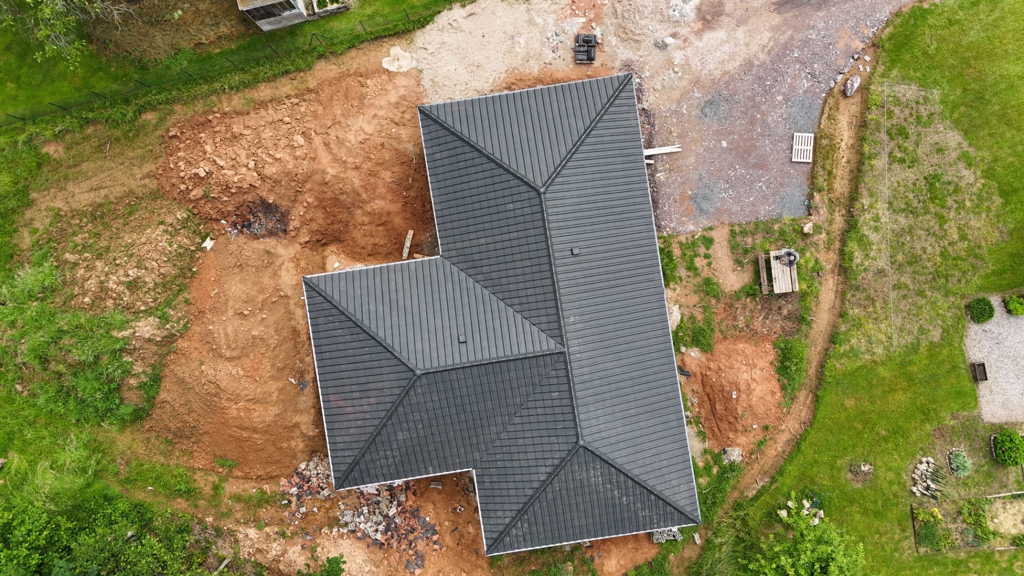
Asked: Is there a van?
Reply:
No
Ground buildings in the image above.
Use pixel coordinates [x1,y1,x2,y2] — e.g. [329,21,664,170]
[301,70,703,559]
[236,0,308,31]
